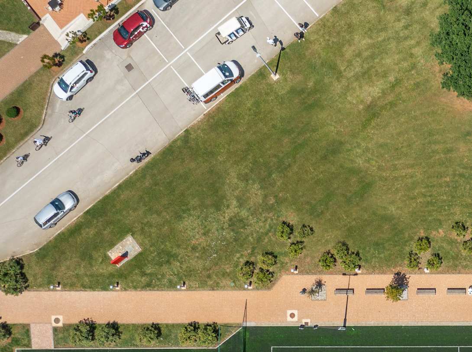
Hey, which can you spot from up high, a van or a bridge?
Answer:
van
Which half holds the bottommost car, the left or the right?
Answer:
left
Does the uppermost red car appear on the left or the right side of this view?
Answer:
left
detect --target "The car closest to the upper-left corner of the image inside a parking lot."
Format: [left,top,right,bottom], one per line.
[51,59,99,102]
